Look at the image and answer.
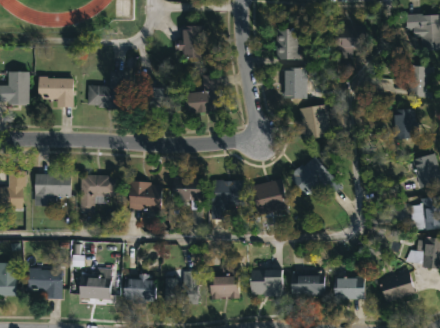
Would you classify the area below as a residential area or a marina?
residential area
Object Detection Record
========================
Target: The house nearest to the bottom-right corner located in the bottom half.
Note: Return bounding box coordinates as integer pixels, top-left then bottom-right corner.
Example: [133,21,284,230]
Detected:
[380,271,418,303]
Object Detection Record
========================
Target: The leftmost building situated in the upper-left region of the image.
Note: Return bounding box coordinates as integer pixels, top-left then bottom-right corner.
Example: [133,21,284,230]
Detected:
[0,71,31,105]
